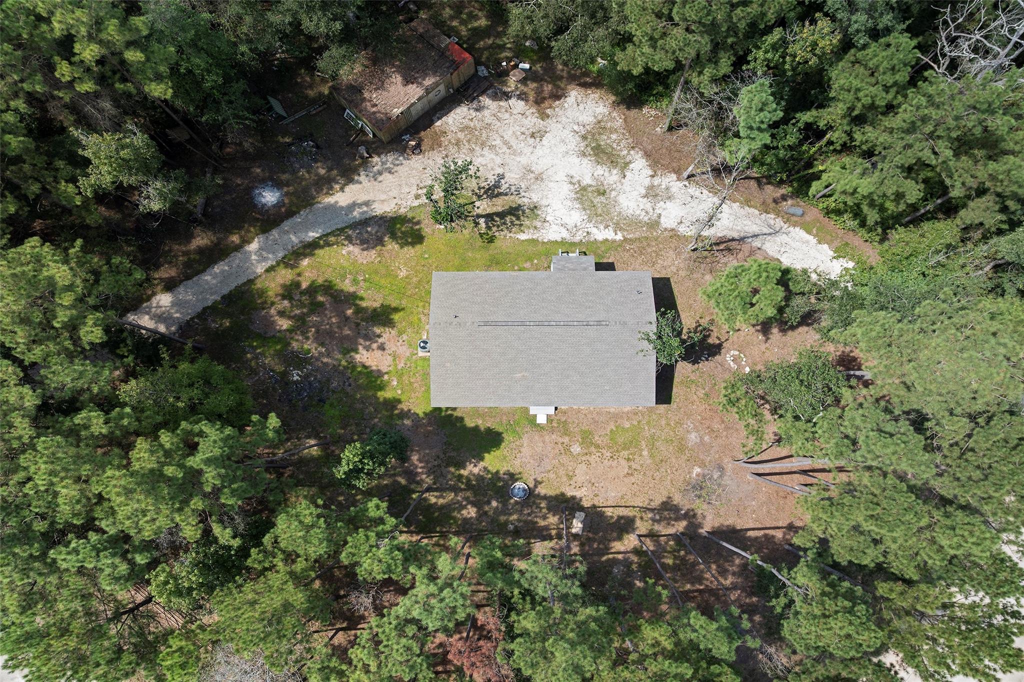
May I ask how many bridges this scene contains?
0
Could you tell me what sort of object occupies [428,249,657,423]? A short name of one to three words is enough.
house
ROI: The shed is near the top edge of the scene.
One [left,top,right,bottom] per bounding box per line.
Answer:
[335,6,475,143]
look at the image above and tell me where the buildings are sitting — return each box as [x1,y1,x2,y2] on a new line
[335,6,475,143]
[428,249,657,423]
